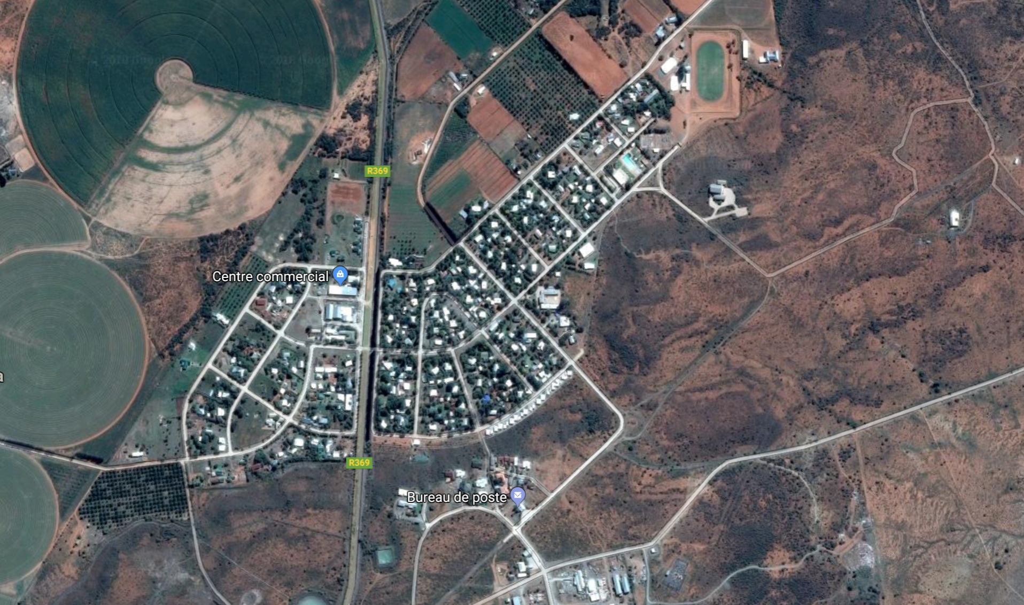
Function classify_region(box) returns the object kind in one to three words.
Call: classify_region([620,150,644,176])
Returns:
swimming pool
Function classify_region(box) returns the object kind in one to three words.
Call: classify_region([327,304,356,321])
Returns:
building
